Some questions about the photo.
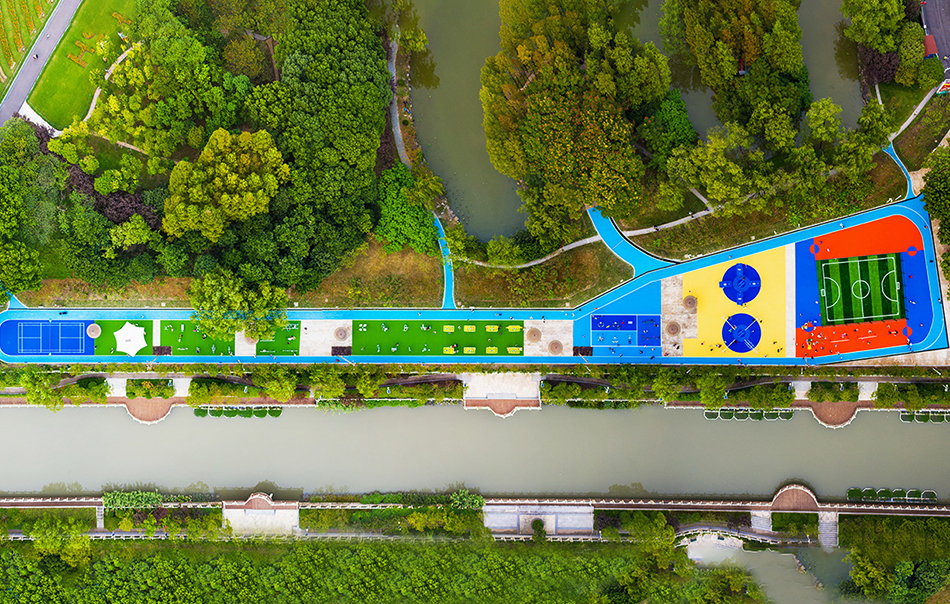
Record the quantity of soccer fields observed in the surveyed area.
one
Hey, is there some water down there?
Yes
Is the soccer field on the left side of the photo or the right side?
right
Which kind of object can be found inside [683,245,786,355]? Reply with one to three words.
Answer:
sports court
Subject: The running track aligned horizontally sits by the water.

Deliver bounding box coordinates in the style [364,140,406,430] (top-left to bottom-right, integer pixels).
[0,195,948,366]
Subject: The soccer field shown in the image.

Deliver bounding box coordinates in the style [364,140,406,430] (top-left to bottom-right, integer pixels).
[817,251,912,327]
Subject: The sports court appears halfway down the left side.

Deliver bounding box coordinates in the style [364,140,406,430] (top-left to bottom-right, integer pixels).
[1,320,95,355]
